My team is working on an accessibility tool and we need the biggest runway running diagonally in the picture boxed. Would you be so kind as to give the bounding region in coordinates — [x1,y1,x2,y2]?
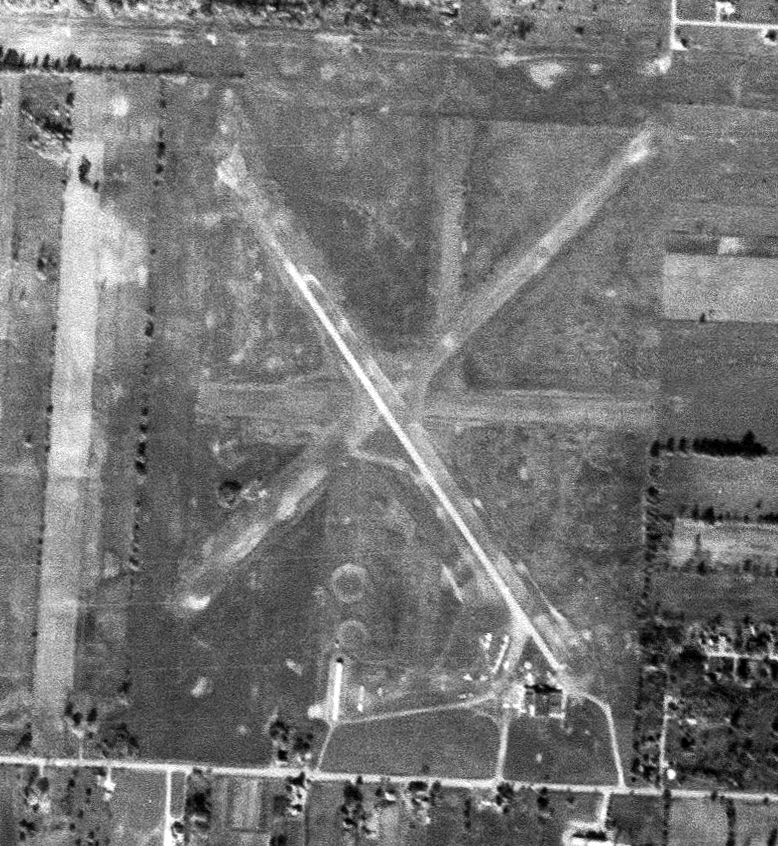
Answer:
[184,137,656,610]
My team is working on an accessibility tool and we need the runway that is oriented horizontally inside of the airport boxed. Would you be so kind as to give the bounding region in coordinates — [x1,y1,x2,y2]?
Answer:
[200,382,655,425]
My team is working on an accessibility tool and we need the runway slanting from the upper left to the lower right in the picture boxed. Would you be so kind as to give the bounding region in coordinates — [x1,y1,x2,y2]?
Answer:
[281,256,563,672]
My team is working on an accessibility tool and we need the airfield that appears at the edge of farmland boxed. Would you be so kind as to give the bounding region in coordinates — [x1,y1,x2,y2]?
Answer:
[140,84,656,785]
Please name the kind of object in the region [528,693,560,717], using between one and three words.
hangar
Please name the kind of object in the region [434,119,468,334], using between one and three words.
runway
